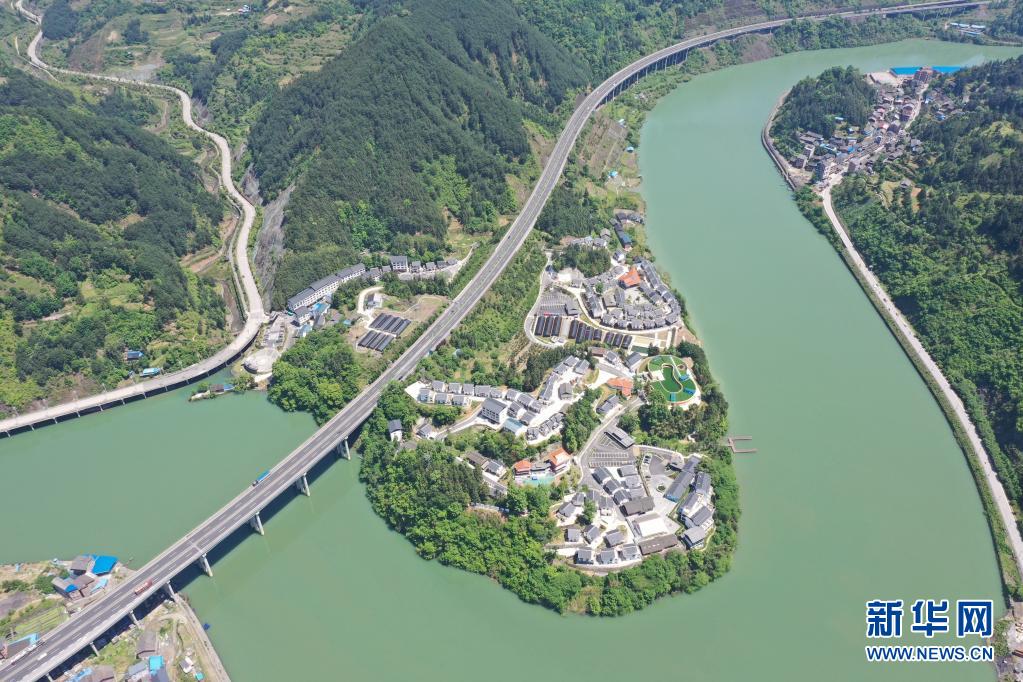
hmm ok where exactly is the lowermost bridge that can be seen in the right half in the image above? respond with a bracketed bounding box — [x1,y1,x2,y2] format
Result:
[589,26,758,101]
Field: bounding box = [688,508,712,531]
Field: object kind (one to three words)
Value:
house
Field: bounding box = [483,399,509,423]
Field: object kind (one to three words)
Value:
house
